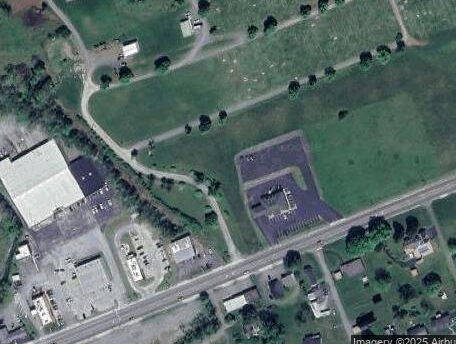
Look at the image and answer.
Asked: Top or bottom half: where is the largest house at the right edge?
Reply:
bottom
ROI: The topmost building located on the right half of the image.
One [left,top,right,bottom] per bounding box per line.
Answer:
[267,190,293,218]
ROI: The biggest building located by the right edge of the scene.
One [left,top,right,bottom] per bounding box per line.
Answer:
[403,228,438,258]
